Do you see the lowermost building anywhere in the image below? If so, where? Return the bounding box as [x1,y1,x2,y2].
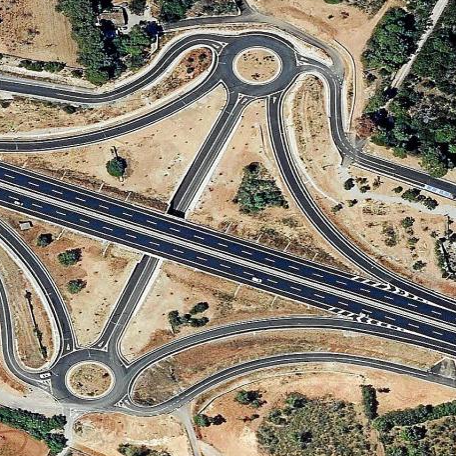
[442,242,456,275]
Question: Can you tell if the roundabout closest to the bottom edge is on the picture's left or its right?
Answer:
left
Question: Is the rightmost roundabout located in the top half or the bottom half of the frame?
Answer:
top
